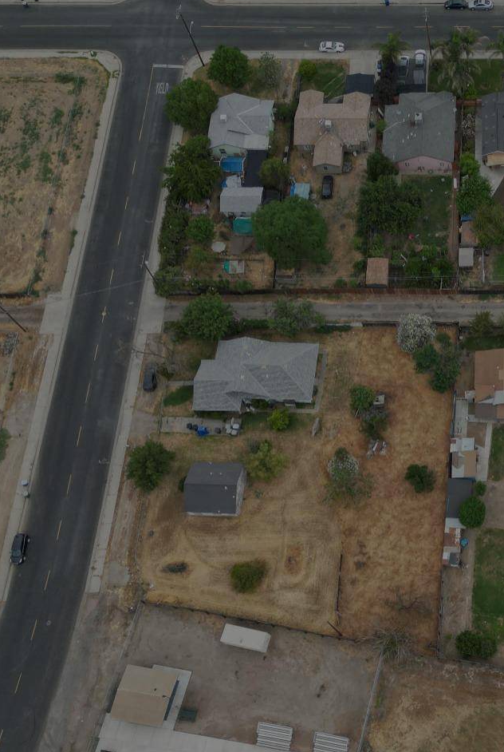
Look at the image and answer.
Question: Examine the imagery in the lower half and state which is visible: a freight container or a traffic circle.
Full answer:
What appears in the lower half is a freight container.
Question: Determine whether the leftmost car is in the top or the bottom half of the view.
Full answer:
The leftmost car is in the bottom half of the image.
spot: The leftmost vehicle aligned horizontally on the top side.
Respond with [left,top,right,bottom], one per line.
[317,39,346,52]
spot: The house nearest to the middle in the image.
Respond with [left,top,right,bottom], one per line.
[192,336,320,416]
